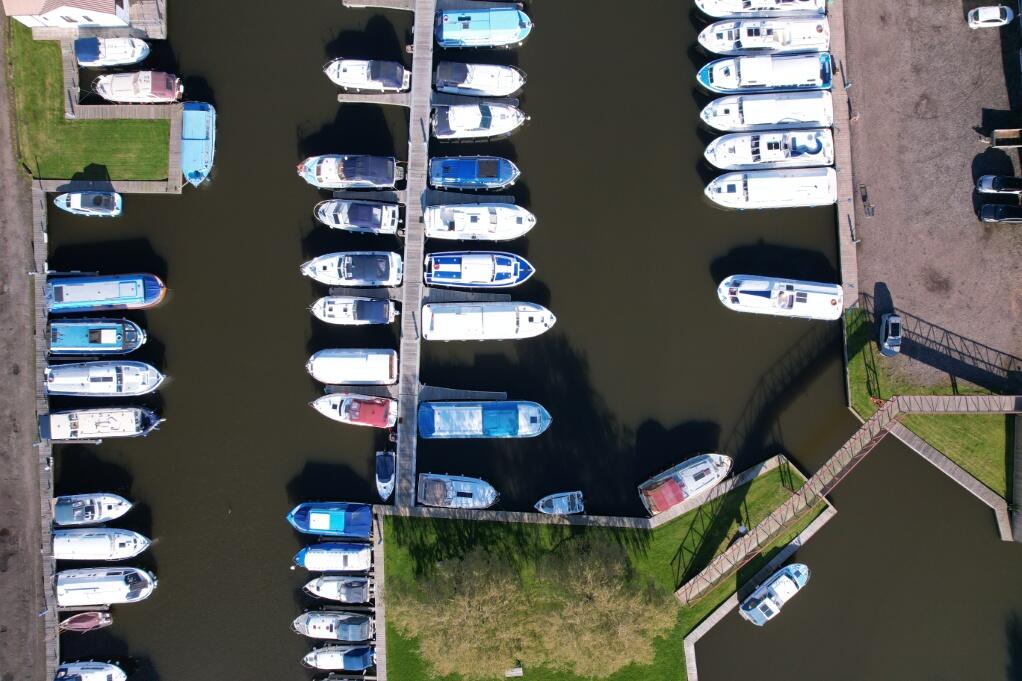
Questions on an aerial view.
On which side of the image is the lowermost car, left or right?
right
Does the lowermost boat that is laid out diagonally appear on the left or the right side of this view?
right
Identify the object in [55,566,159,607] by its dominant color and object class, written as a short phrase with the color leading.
white boat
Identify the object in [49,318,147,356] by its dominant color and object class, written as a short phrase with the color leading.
blue boat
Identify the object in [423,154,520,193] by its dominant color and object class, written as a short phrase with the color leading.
blue boat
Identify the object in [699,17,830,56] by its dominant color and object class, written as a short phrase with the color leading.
white boat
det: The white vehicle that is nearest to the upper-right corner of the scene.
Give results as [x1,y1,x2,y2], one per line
[965,4,1010,31]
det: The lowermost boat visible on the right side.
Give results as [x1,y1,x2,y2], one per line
[741,565,812,625]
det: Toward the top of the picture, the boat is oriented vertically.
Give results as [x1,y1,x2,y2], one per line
[181,102,220,190]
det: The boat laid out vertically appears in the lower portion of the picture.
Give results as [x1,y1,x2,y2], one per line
[376,447,395,501]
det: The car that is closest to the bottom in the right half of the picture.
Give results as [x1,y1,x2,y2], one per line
[876,315,903,357]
